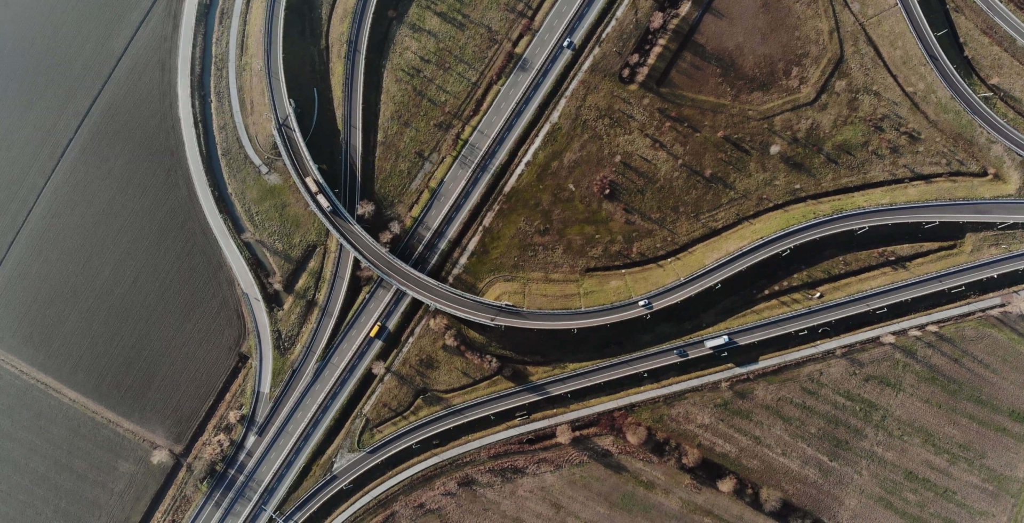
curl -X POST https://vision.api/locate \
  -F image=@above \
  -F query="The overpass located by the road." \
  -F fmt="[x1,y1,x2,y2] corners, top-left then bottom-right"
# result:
[272,110,504,325]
